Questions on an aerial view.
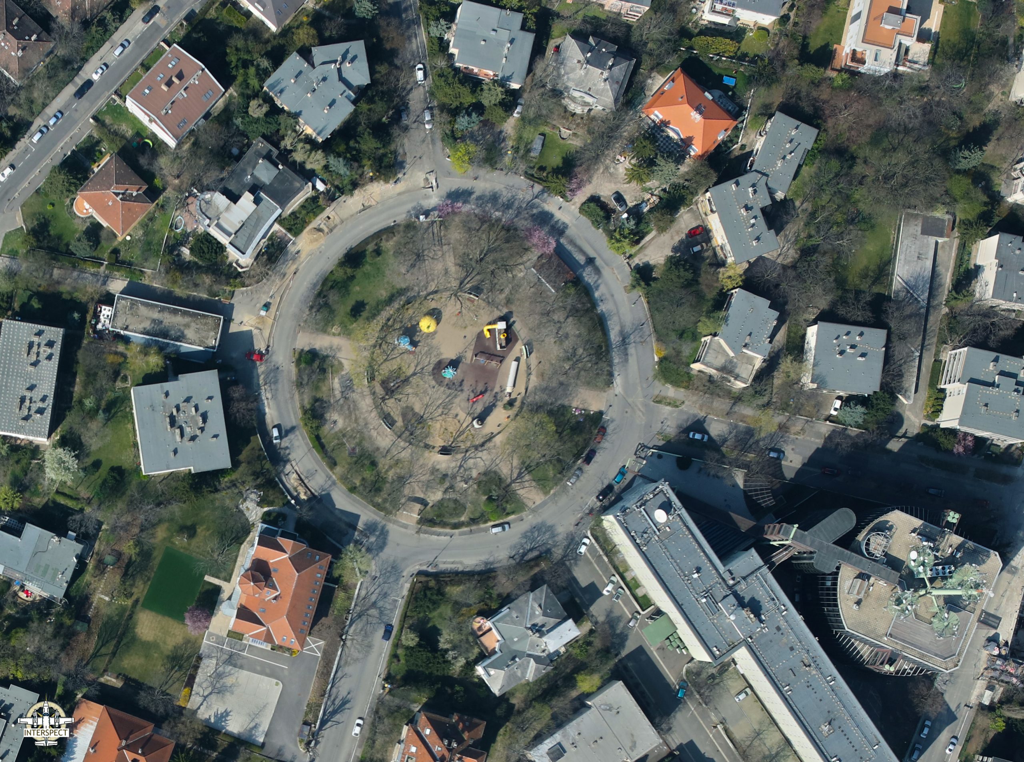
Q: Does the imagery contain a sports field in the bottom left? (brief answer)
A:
Yes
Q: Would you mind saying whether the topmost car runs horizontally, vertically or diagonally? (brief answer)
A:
diagonally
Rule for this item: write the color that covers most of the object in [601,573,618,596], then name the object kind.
white car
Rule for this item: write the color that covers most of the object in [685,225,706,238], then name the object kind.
red vehicle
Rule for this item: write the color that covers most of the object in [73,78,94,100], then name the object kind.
black car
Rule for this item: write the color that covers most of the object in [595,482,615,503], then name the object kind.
black car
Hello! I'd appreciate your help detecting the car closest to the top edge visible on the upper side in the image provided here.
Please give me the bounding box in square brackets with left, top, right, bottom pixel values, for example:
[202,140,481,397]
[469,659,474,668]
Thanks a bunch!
[140,4,161,26]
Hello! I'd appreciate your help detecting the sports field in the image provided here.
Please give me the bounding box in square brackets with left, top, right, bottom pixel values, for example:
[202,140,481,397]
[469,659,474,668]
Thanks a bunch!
[141,546,207,624]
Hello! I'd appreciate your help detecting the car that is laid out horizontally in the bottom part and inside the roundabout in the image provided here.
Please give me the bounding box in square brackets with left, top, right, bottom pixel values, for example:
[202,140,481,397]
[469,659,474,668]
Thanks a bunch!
[488,522,512,535]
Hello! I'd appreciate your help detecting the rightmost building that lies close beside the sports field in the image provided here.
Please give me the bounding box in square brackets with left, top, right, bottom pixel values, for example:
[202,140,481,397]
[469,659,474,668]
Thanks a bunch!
[222,523,332,651]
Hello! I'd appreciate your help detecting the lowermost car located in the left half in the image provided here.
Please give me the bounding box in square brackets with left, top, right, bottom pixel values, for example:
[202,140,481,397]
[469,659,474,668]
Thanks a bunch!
[351,715,365,739]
